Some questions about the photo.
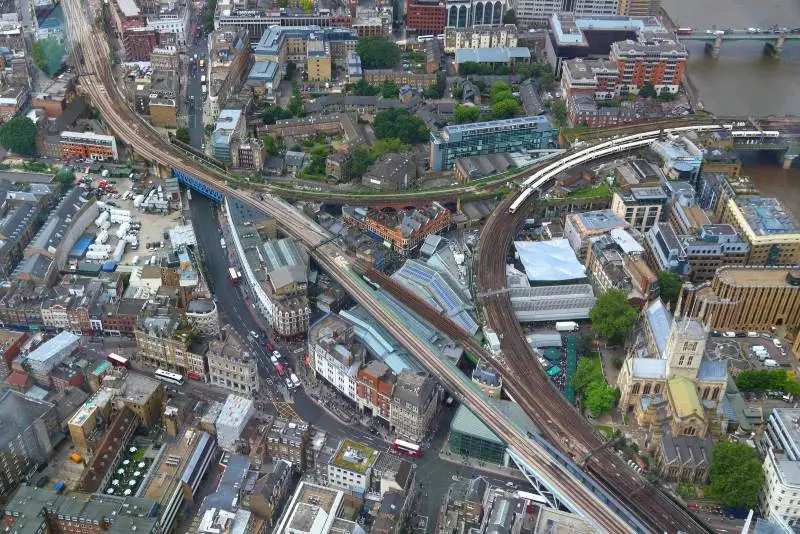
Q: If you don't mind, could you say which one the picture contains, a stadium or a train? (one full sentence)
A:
There is a train in the scene.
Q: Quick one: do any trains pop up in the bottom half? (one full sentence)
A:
No, no train can be made out in the bottom half.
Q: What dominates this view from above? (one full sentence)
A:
The largest share of the image is taken up by buildings.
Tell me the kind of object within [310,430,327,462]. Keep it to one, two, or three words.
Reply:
building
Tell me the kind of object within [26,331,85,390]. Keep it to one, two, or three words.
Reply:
building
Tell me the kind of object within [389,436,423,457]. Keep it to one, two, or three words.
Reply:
bus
